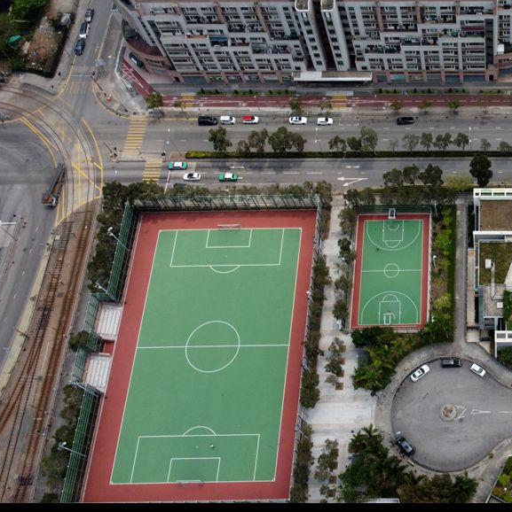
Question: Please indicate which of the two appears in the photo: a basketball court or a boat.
basketball court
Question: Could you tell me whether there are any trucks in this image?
Yes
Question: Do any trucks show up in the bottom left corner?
No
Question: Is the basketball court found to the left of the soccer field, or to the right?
on its right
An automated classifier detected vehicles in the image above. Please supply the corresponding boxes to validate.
[183,172,203,181]
[410,365,430,382]
[218,115,238,125]
[168,162,187,170]
[469,362,487,377]
[441,358,461,368]
[316,117,333,125]
[243,116,259,124]
[78,24,91,38]
[38,165,71,207]
[290,116,307,125]
[198,116,217,125]
[169,183,188,191]
[396,434,413,455]
[397,116,414,125]
[74,41,87,54]
[219,173,238,181]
